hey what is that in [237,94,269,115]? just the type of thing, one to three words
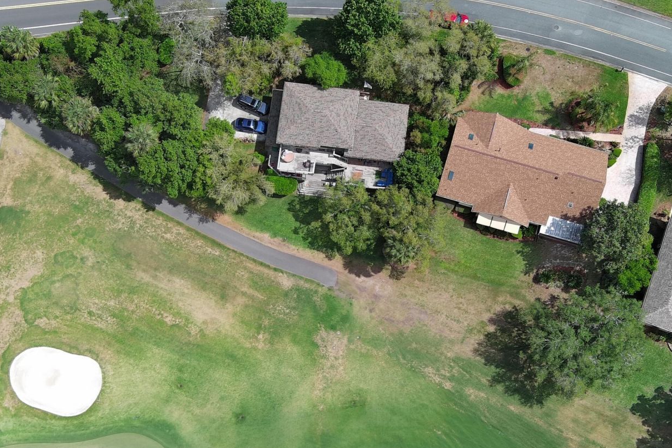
car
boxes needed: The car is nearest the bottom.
[235,118,267,134]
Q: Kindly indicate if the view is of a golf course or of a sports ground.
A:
golf course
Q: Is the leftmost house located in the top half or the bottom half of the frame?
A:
top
